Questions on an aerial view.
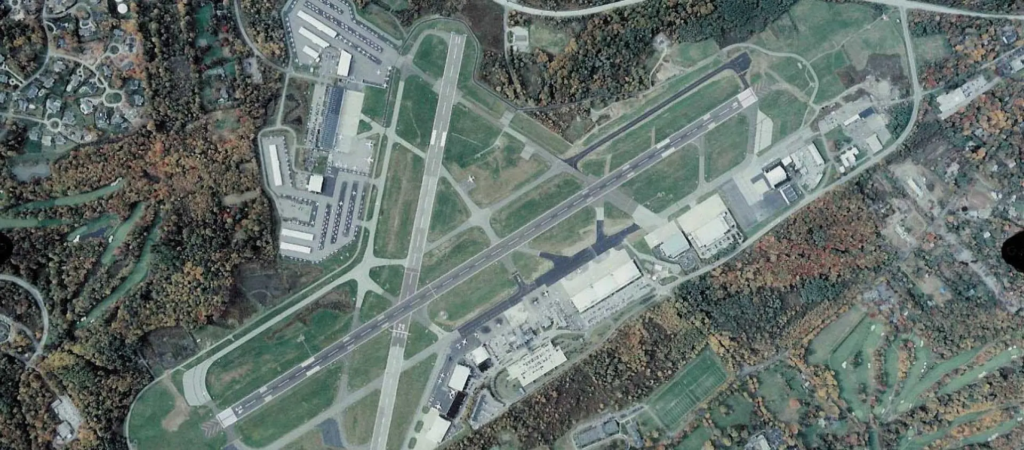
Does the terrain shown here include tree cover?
Yes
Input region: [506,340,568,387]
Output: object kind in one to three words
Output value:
building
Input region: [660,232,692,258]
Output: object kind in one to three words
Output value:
hangar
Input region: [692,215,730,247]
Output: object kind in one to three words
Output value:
hangar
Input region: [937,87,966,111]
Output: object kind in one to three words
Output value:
building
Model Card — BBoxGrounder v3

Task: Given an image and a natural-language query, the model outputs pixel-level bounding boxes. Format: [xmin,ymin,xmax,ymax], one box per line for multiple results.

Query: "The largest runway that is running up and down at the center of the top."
[425,33,466,175]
